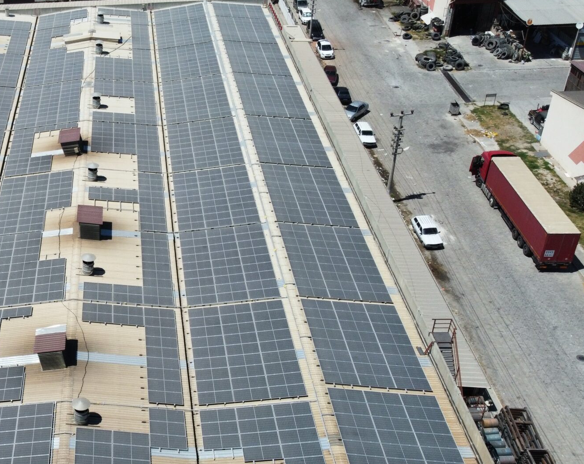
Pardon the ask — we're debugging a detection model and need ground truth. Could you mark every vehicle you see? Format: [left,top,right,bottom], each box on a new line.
[323,64,341,82]
[347,97,375,118]
[467,150,581,270]
[333,83,354,102]
[413,212,445,247]
[520,103,550,122]
[317,38,336,56]
[294,0,312,10]
[305,18,325,39]
[357,120,378,147]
